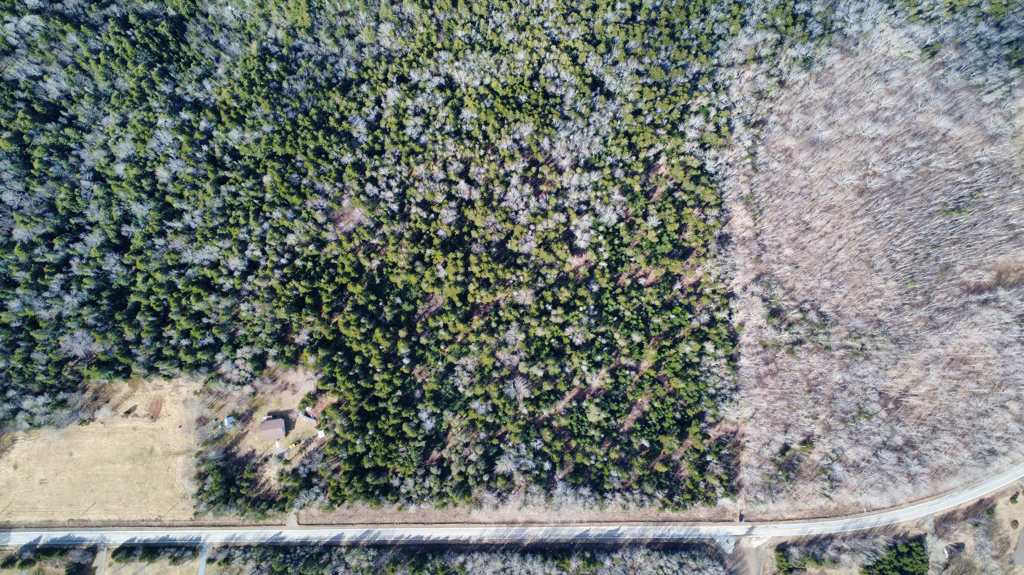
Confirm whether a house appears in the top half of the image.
No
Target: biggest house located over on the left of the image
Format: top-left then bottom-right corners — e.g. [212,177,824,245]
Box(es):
[261,416,286,441]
